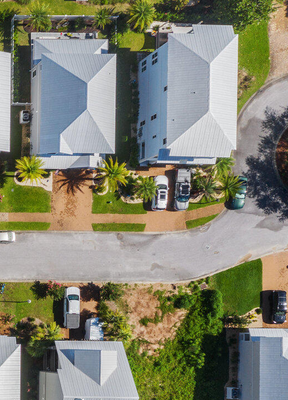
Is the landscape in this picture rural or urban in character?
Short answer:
urban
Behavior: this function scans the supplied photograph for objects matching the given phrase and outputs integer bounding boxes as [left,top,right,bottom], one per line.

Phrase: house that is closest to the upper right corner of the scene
[129,24,239,167]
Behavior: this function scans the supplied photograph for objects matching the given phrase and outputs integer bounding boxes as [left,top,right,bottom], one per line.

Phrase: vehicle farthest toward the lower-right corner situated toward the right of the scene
[270,290,288,324]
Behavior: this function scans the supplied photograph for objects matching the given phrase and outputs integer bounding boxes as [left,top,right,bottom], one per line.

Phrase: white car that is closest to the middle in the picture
[151,175,171,212]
